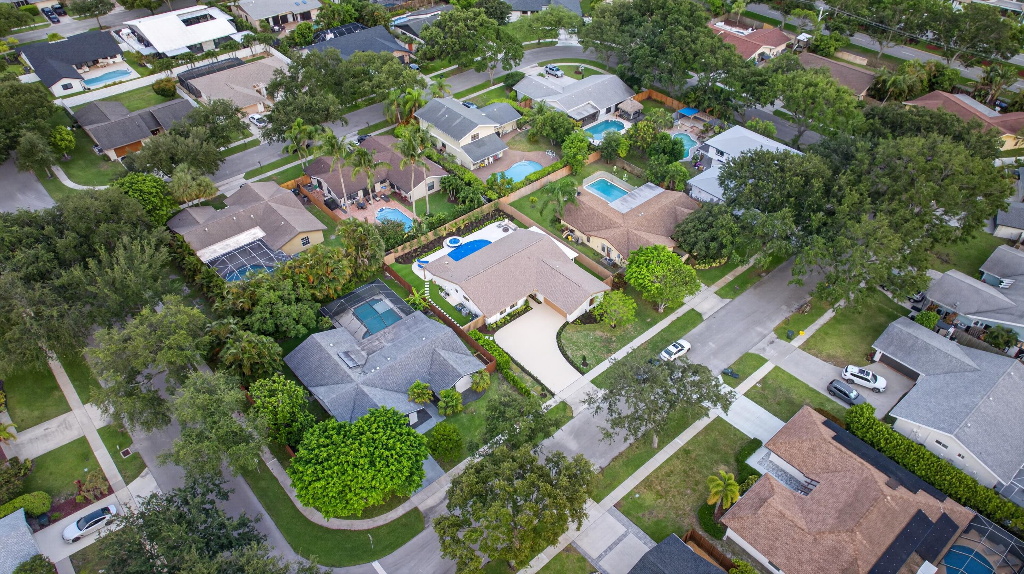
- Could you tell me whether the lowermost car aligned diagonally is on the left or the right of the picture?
left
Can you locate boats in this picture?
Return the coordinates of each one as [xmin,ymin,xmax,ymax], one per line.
[118,26,137,41]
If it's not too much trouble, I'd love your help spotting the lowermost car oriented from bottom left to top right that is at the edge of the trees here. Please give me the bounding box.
[64,504,115,544]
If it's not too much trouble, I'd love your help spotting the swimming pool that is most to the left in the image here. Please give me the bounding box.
[82,69,133,87]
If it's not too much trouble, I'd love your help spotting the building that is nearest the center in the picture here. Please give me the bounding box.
[424,227,612,327]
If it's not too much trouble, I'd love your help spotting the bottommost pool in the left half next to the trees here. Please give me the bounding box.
[351,298,404,340]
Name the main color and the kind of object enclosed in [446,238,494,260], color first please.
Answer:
blue swimming pool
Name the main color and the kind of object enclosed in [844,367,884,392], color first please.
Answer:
white car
